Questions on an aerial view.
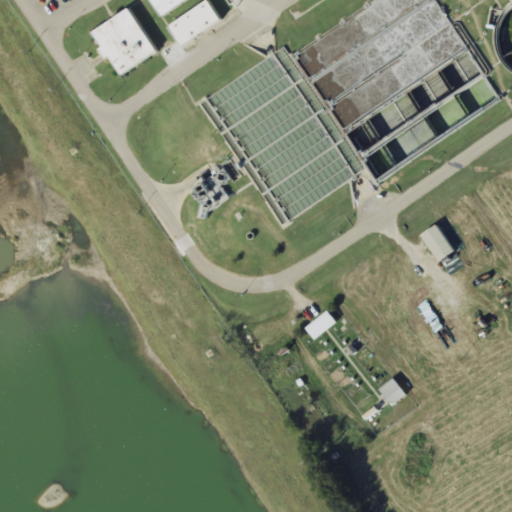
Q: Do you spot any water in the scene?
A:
Yes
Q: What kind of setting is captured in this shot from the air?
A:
industrial area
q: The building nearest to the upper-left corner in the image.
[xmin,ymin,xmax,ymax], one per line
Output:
[90,8,157,76]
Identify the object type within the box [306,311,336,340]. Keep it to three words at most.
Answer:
barn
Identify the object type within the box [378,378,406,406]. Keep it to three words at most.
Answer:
barn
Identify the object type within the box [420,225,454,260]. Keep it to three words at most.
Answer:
shed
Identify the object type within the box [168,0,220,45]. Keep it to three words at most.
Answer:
building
